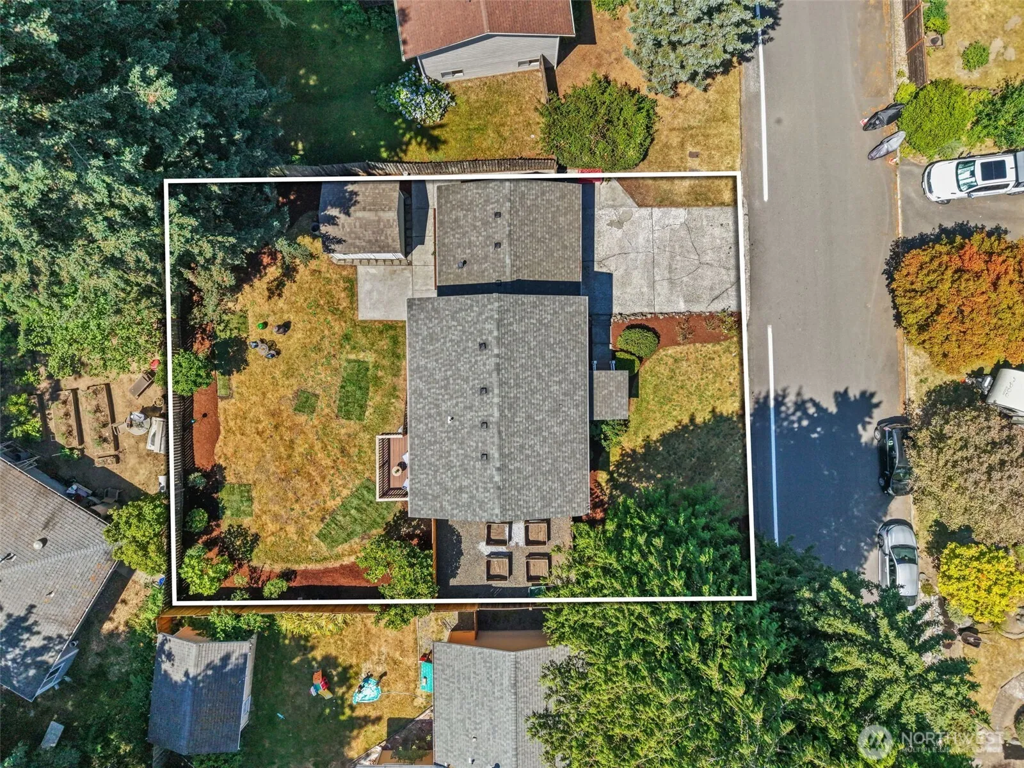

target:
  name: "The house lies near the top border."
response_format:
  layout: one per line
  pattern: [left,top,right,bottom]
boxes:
[393,0,576,84]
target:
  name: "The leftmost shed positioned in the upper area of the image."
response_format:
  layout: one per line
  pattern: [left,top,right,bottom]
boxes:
[316,176,405,259]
